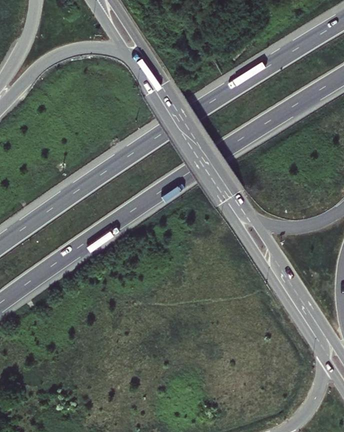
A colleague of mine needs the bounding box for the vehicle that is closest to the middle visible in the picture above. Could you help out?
[160,183,186,202]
